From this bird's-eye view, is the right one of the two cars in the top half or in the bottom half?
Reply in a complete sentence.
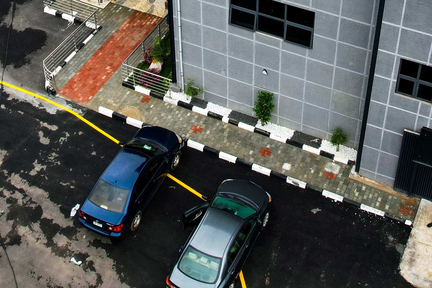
Seen from above, the right one of the two cars lies in the bottom half of the view.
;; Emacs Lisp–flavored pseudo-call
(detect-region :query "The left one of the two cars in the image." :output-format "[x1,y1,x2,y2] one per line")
[72,121,184,248]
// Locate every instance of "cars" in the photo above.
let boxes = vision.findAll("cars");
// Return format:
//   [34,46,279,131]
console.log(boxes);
[163,178,273,288]
[72,121,184,248]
